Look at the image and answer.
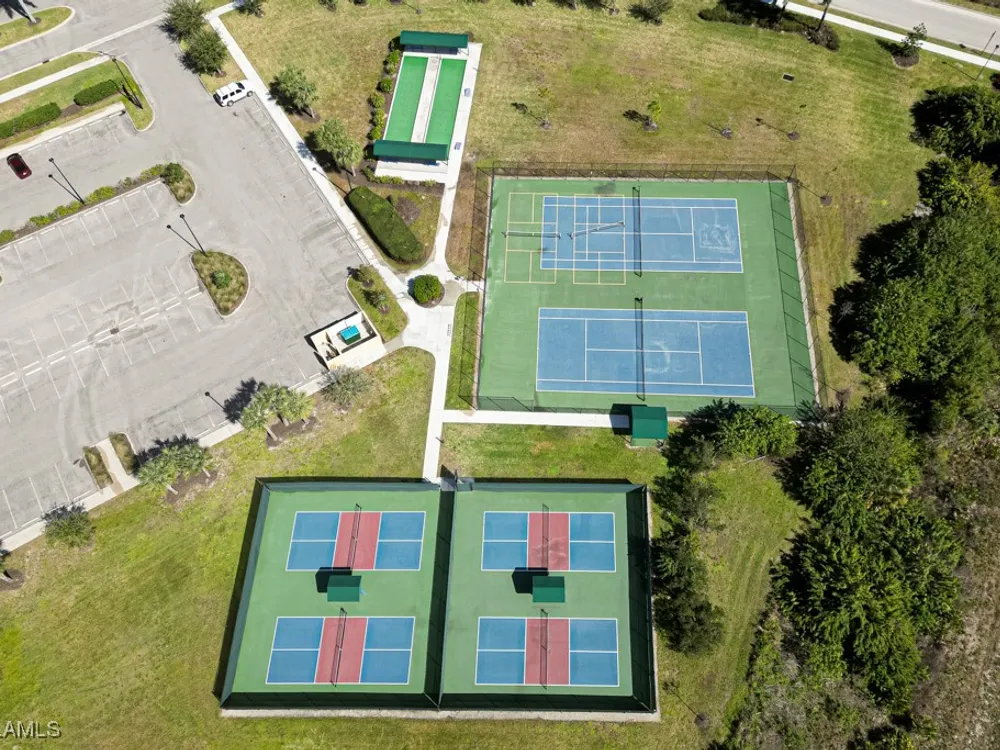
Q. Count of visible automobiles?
2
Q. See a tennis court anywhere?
Yes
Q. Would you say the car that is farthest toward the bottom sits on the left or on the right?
left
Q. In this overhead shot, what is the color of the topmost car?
white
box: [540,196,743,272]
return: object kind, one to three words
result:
tennis court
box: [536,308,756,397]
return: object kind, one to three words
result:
tennis court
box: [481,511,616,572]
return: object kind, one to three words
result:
sports court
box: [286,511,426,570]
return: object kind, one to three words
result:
sports court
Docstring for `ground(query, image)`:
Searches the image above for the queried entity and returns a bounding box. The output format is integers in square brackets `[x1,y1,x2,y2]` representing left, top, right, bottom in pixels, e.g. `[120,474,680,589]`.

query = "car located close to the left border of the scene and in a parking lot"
[6,150,33,181]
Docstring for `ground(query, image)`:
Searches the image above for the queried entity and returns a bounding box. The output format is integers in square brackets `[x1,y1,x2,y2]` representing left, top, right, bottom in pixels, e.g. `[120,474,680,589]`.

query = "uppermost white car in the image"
[215,78,255,104]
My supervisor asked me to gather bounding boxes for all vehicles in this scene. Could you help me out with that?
[215,78,255,104]
[6,150,33,181]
